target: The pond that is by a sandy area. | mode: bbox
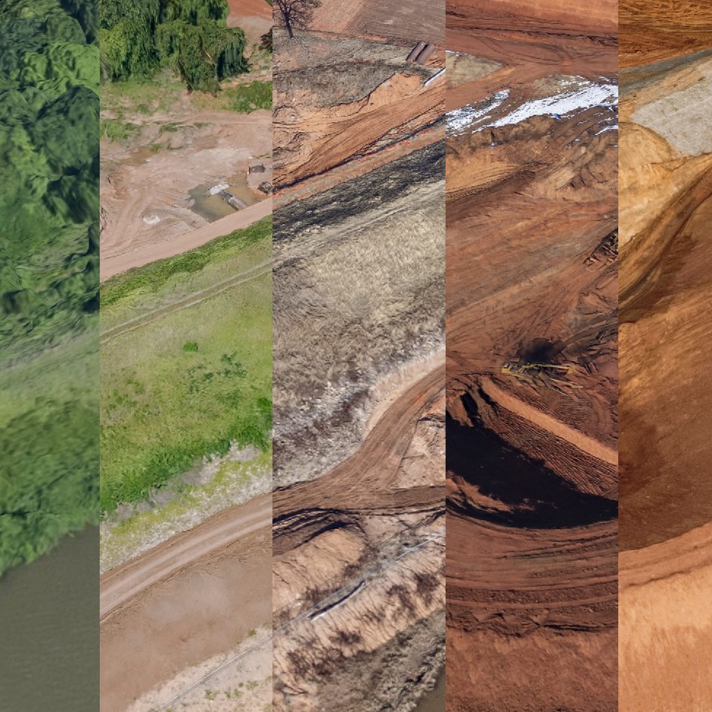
[188,174,267,222]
